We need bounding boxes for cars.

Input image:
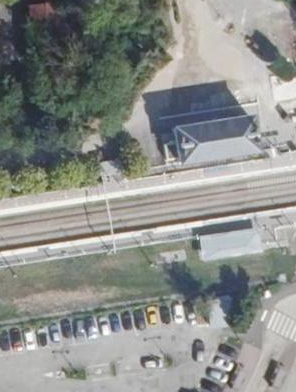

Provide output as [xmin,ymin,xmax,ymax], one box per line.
[146,306,158,326]
[216,342,239,360]
[26,330,36,350]
[173,302,184,324]
[110,312,121,334]
[200,378,223,392]
[213,356,234,372]
[86,317,98,338]
[134,308,146,331]
[160,306,170,326]
[0,330,9,353]
[100,316,110,336]
[60,316,72,340]
[50,322,62,346]
[207,367,228,382]
[141,357,162,368]
[74,316,86,340]
[194,340,205,362]
[121,310,132,334]
[37,328,47,346]
[11,328,22,352]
